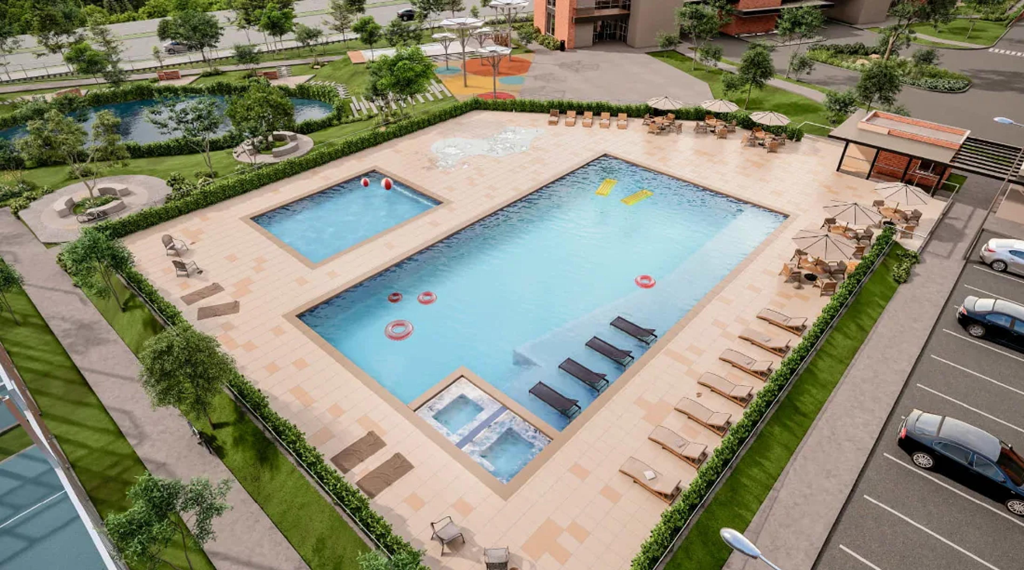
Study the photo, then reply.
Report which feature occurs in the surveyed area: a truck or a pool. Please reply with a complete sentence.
The image shows a pool.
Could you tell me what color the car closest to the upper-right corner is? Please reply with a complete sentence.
The color of the car closest to the upper-right corner is white.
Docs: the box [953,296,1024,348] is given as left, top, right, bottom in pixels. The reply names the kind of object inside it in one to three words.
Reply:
car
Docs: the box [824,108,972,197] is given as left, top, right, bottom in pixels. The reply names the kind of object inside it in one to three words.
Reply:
building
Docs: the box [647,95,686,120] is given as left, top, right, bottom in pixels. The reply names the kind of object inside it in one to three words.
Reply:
umbrella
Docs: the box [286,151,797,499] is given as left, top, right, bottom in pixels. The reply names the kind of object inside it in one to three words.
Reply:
swimming pool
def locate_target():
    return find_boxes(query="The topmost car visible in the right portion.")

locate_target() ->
[979,238,1024,273]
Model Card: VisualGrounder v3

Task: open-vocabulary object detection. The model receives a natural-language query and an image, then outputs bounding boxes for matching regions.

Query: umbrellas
[834,197,895,240]
[748,109,789,135]
[647,95,686,120]
[874,182,934,224]
[793,227,859,265]
[699,97,737,122]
